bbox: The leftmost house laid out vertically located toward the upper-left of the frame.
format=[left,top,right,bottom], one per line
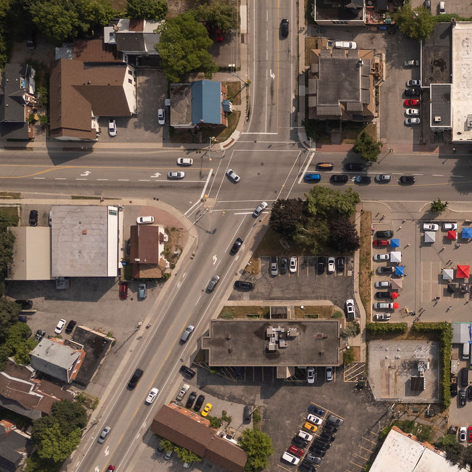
[0,62,41,142]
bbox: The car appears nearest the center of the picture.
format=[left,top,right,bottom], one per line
[230,237,243,253]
